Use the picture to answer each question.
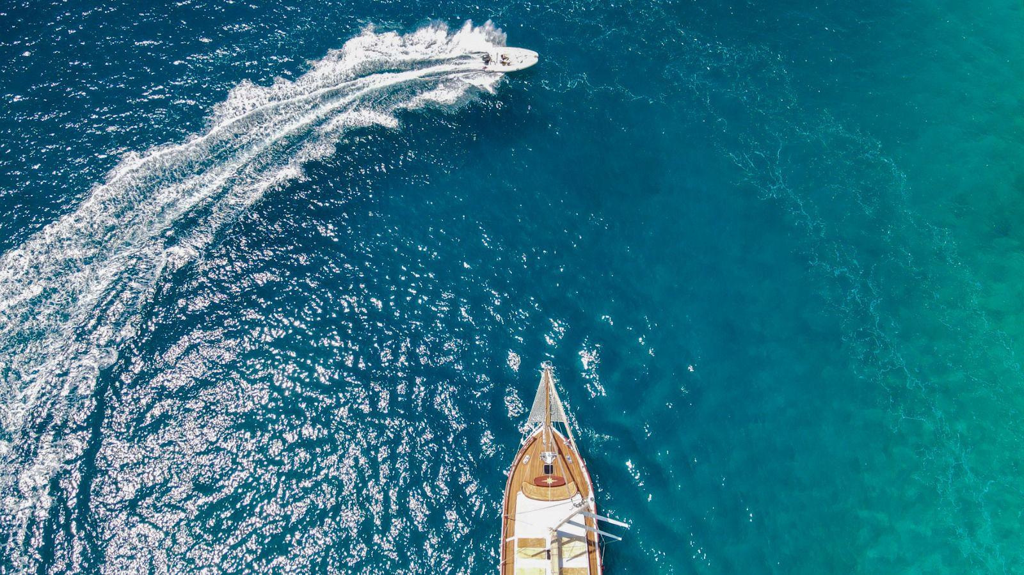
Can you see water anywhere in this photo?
Yes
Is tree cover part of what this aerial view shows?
No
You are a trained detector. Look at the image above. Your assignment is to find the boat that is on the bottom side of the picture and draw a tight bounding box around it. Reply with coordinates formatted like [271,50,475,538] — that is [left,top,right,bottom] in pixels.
[498,365,629,575]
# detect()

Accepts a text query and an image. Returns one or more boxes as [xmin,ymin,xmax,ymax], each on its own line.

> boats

[498,365,629,575]
[479,48,539,72]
